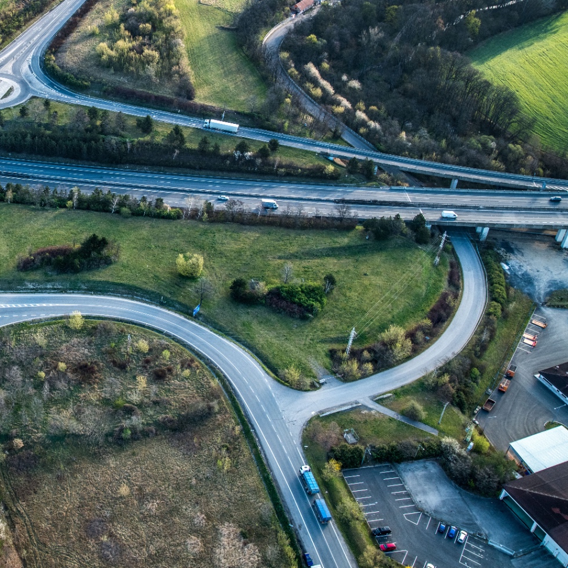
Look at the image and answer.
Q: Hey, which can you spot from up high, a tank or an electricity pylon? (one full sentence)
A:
I can see an electricity pylon in this picture.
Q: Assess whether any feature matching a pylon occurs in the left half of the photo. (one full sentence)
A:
No, there is no pylon in the left half of the photo.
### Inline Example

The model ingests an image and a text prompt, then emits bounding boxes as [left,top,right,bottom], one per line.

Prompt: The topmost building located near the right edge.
[524,362,568,414]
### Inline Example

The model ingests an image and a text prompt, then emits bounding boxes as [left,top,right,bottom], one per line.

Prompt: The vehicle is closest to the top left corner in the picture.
[203,118,240,132]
